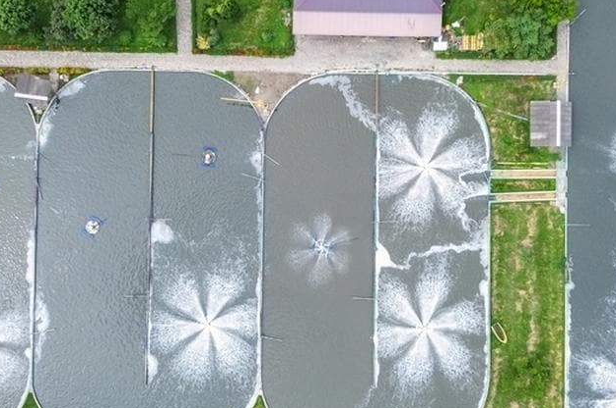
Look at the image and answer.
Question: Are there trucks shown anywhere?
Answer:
No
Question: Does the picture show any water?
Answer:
Yes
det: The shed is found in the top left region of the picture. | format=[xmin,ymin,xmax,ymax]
[14,71,60,113]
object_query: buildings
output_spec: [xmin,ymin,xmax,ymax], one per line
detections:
[526,98,571,148]
[293,0,446,41]
[14,71,60,113]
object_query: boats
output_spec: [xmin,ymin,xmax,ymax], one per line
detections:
[493,324,505,343]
